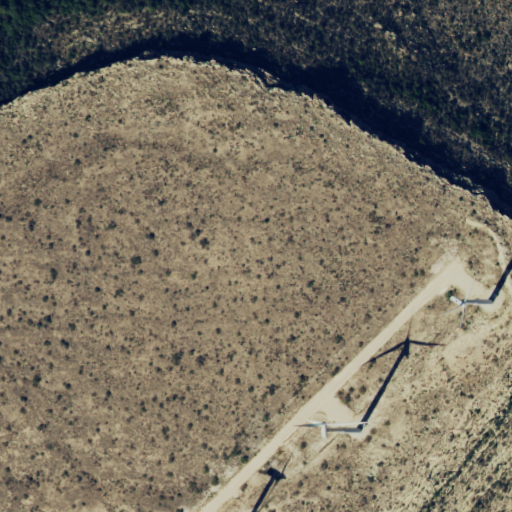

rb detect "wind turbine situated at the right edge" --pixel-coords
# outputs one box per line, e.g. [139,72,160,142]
[444,272,496,328]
